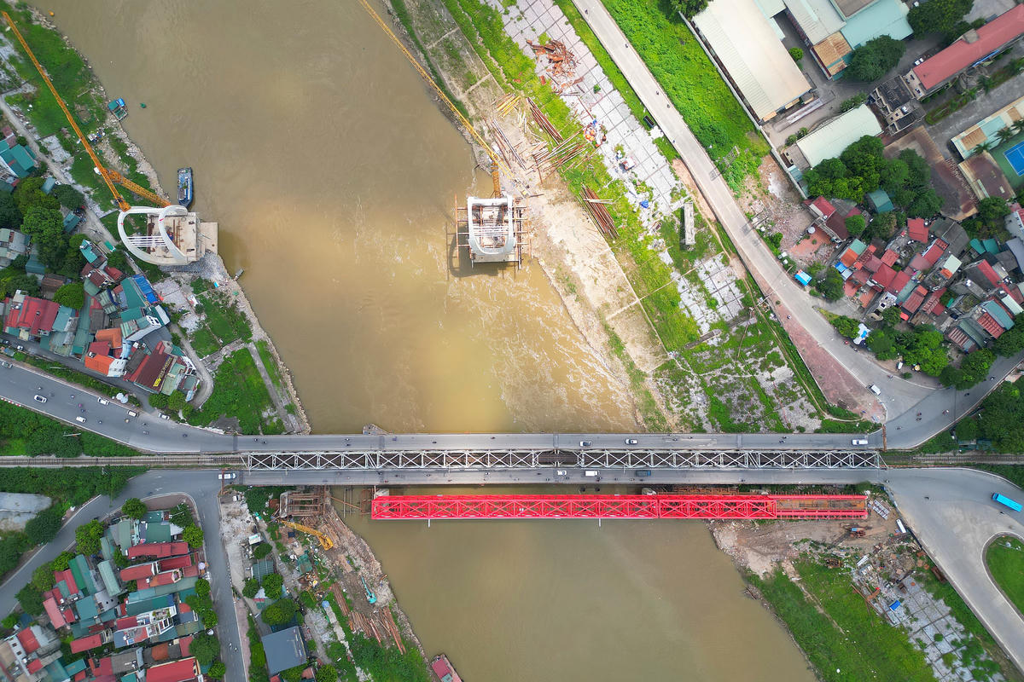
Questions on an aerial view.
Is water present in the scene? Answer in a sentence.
Yes, some water is visible.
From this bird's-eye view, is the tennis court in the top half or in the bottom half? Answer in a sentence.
The tennis court sits in the top half of the picture.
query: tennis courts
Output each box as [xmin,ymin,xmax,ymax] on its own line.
[988,130,1024,199]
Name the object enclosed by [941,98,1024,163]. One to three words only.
shed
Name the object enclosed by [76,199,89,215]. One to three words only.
vehicle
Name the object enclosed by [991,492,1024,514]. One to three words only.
truck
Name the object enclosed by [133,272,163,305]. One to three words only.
house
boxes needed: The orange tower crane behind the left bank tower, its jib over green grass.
[0,5,176,219]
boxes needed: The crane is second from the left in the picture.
[280,514,338,556]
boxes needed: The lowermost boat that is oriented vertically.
[177,167,192,206]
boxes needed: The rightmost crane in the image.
[356,0,528,204]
